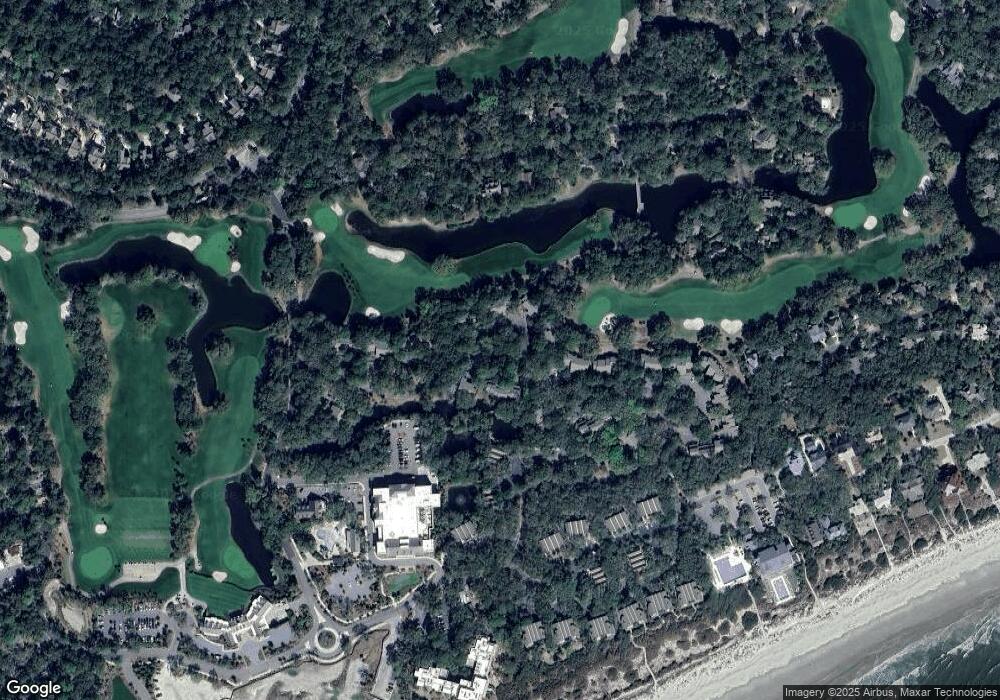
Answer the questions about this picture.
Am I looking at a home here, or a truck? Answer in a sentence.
There is a home in the scene.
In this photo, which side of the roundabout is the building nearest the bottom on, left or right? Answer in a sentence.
The building nearest the bottom can be seen on the right of the roundabout.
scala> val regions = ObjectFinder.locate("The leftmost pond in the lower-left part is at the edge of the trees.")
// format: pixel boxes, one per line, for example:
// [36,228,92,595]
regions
[226,481,274,587]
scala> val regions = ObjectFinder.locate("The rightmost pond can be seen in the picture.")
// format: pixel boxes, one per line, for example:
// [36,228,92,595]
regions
[915,77,1000,266]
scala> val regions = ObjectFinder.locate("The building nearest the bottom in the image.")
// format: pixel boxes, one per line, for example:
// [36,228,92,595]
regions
[413,636,495,700]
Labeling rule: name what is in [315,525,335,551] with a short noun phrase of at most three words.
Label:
swimming pool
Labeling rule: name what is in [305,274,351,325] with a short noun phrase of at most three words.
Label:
pond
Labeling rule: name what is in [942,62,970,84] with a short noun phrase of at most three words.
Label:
house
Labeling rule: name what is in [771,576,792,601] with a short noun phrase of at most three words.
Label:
swimming pool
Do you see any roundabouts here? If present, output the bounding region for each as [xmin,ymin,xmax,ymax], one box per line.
[307,620,347,660]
